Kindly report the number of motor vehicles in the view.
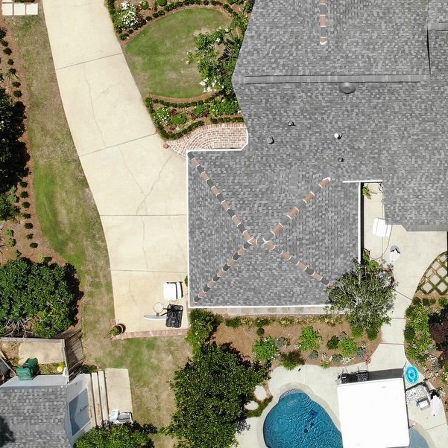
zero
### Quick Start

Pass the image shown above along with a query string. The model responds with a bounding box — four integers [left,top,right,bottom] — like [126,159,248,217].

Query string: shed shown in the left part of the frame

[0,373,90,448]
